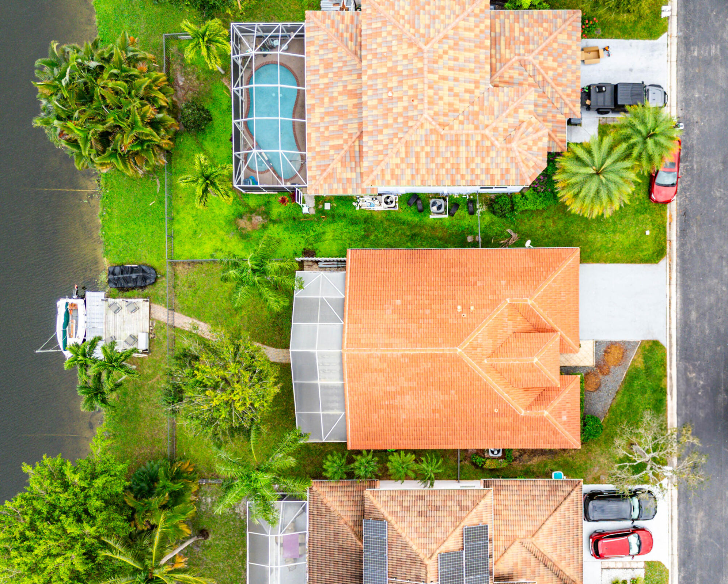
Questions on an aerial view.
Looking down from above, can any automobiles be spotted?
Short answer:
Yes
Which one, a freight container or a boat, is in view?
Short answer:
boat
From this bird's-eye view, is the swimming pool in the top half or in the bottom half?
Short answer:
top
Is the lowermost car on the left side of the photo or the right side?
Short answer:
right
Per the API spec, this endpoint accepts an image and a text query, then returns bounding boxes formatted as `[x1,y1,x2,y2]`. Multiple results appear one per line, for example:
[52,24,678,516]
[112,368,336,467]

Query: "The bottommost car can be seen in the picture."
[587,526,654,560]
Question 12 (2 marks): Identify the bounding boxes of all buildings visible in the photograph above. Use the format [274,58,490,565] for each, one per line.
[304,0,582,197]
[308,477,585,584]
[340,245,582,451]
